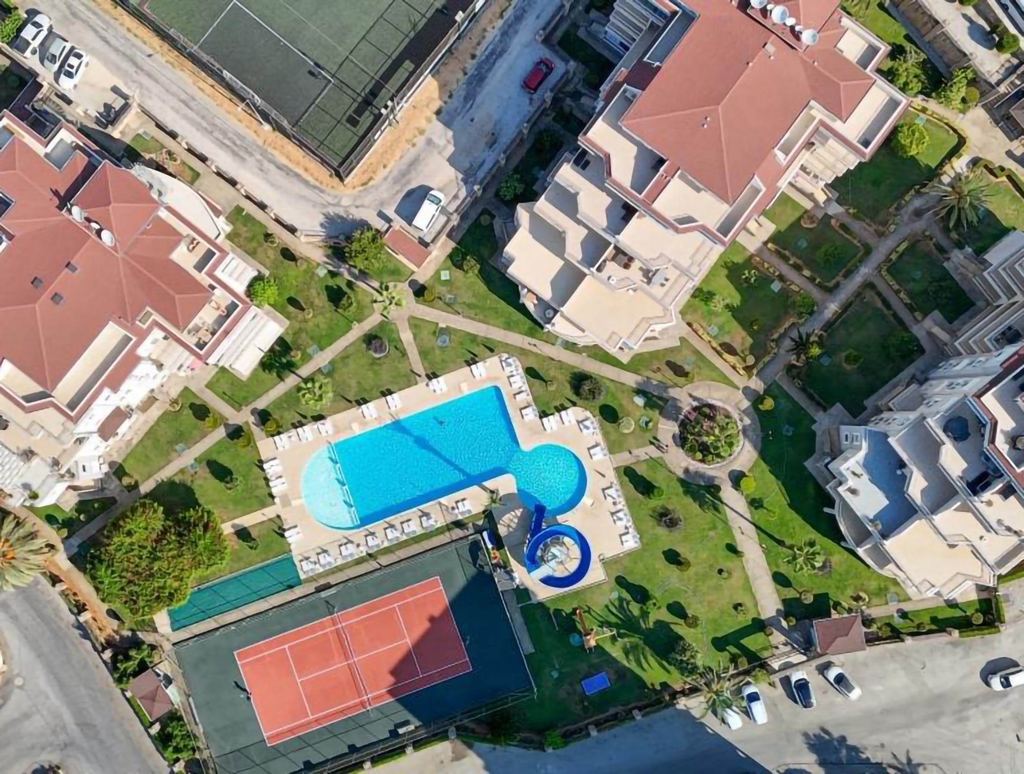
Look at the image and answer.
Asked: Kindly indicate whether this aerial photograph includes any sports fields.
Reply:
Yes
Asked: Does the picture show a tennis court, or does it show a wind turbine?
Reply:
tennis court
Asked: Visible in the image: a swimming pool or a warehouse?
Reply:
swimming pool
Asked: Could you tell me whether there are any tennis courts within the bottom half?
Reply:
Yes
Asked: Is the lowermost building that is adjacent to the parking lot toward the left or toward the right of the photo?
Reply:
left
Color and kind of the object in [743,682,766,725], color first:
white car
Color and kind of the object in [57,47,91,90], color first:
white car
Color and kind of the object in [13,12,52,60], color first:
white truck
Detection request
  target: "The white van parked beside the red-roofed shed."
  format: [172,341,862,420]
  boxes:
[410,188,444,232]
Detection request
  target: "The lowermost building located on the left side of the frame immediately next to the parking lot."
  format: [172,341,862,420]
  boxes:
[0,108,287,507]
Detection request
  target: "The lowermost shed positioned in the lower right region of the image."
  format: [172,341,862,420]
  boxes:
[807,611,867,655]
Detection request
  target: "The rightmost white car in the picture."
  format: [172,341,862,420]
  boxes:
[985,665,1024,691]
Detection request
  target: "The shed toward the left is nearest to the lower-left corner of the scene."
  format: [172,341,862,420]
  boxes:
[127,665,181,722]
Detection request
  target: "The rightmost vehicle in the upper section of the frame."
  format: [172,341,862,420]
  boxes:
[522,58,554,95]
